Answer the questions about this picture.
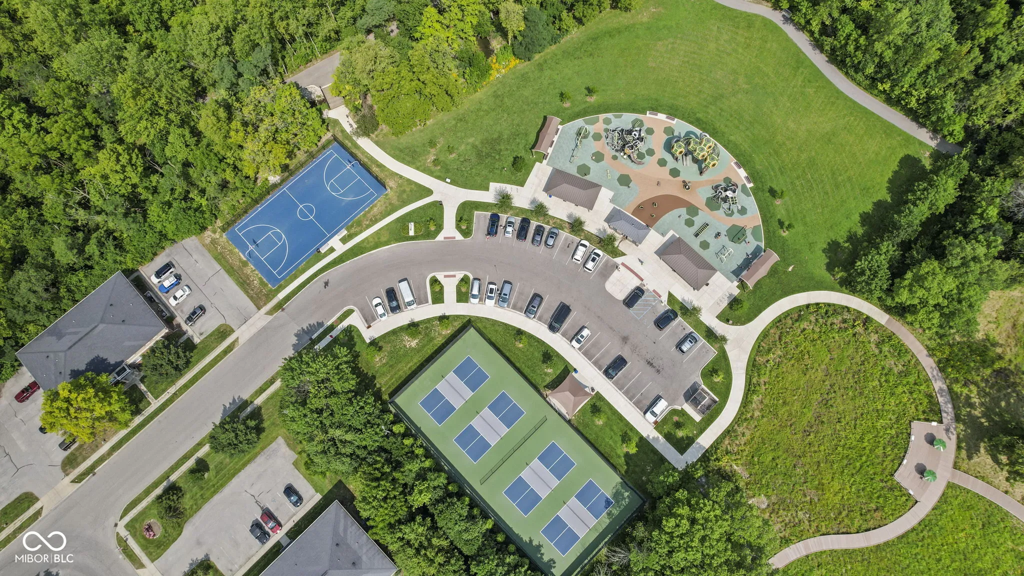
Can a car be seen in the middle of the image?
Yes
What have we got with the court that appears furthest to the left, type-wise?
basketball court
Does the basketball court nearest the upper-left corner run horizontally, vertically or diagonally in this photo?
diagonally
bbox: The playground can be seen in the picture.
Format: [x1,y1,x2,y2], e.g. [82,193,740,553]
[546,114,764,283]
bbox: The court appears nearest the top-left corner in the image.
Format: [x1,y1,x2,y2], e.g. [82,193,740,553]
[224,142,387,288]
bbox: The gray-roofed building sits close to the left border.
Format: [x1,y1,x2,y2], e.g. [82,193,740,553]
[16,271,169,413]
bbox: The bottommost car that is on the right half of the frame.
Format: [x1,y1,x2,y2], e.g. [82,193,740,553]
[646,396,669,423]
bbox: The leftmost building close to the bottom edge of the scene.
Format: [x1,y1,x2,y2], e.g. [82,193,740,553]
[259,500,398,576]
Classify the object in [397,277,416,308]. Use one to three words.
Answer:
vehicle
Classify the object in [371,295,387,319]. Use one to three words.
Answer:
car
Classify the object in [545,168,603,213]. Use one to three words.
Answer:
building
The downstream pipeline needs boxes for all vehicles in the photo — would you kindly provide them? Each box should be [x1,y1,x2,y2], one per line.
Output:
[33,413,58,434]
[498,281,512,306]
[572,326,591,348]
[504,215,515,237]
[549,303,570,332]
[397,277,416,308]
[545,227,558,247]
[606,354,627,378]
[258,511,280,535]
[246,522,269,547]
[531,223,544,246]
[656,308,677,330]
[516,216,530,241]
[623,284,645,310]
[371,295,387,319]
[158,273,180,292]
[13,380,38,402]
[281,484,303,510]
[677,330,700,355]
[167,283,190,304]
[183,303,205,325]
[487,213,499,235]
[646,396,669,423]
[573,239,589,262]
[485,283,497,305]
[468,278,481,303]
[585,249,603,271]
[526,292,543,318]
[386,288,400,312]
